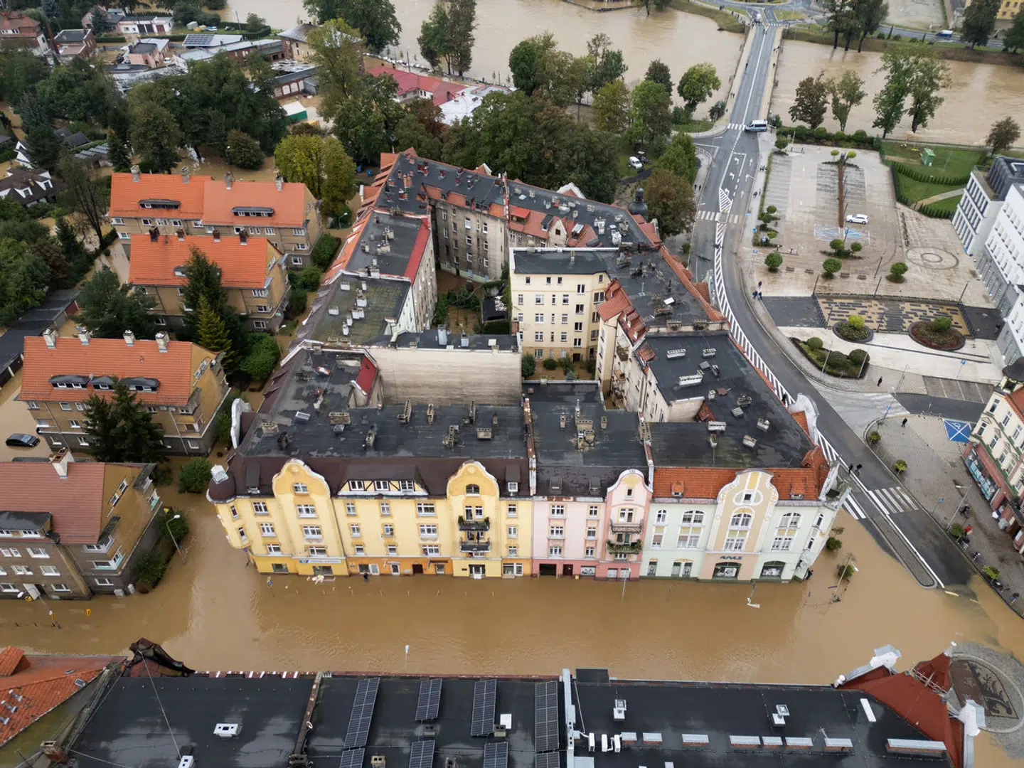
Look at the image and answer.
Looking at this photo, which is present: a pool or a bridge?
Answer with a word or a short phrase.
bridge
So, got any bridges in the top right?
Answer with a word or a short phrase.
Yes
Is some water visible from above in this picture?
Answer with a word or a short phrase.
Yes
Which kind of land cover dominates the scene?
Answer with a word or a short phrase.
buildings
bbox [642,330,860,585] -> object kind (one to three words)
house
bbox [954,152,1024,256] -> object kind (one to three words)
building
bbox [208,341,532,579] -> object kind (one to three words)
house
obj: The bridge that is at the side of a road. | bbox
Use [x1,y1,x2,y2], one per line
[723,24,786,129]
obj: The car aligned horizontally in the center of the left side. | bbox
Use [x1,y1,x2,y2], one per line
[2,434,41,448]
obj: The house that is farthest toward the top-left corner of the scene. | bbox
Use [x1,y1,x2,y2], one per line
[0,8,47,55]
